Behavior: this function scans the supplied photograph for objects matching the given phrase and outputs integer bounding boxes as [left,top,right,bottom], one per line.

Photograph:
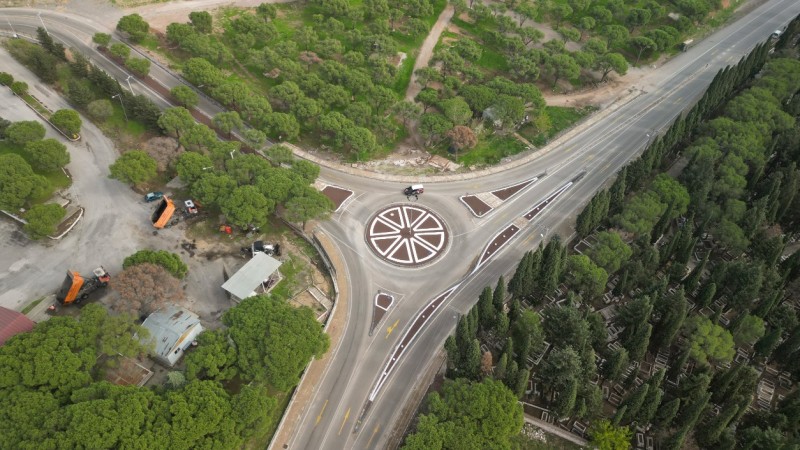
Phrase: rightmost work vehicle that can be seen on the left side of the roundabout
[242,239,284,257]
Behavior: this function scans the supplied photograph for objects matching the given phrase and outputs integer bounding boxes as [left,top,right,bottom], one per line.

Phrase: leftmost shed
[0,305,38,348]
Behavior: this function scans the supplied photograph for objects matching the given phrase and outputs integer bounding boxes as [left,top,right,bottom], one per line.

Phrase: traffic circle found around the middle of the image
[362,203,451,269]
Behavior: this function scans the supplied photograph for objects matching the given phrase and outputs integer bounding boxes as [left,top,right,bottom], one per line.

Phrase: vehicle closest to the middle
[403,184,423,197]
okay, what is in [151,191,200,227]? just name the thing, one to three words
truck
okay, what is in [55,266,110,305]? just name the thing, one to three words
truck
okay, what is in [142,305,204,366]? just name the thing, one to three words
house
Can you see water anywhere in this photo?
No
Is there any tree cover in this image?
Yes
